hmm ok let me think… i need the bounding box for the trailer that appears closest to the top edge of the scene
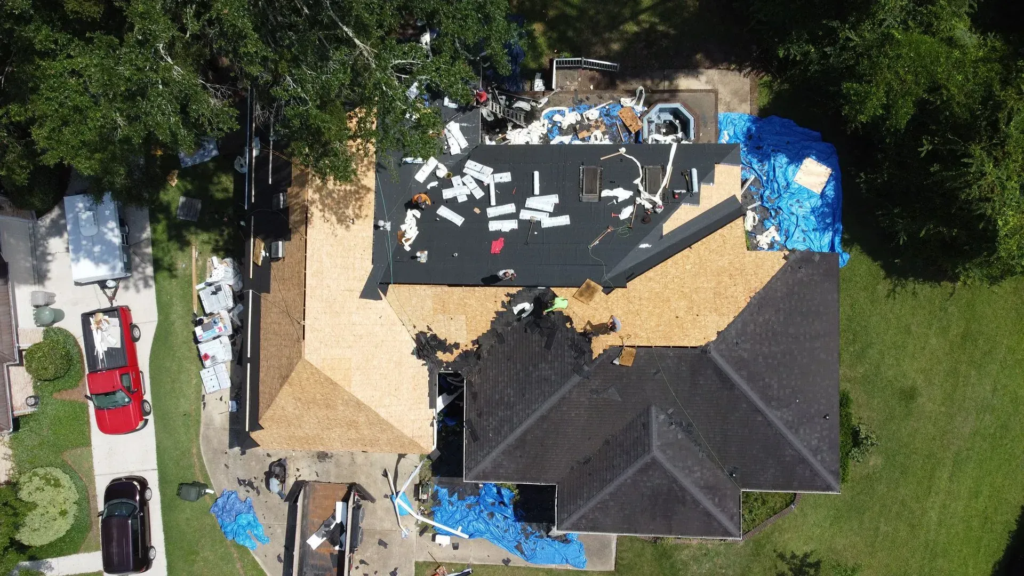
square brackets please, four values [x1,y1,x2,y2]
[64,192,138,300]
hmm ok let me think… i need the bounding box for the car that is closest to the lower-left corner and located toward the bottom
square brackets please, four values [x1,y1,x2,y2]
[96,474,156,574]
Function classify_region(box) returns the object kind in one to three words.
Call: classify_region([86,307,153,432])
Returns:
truck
